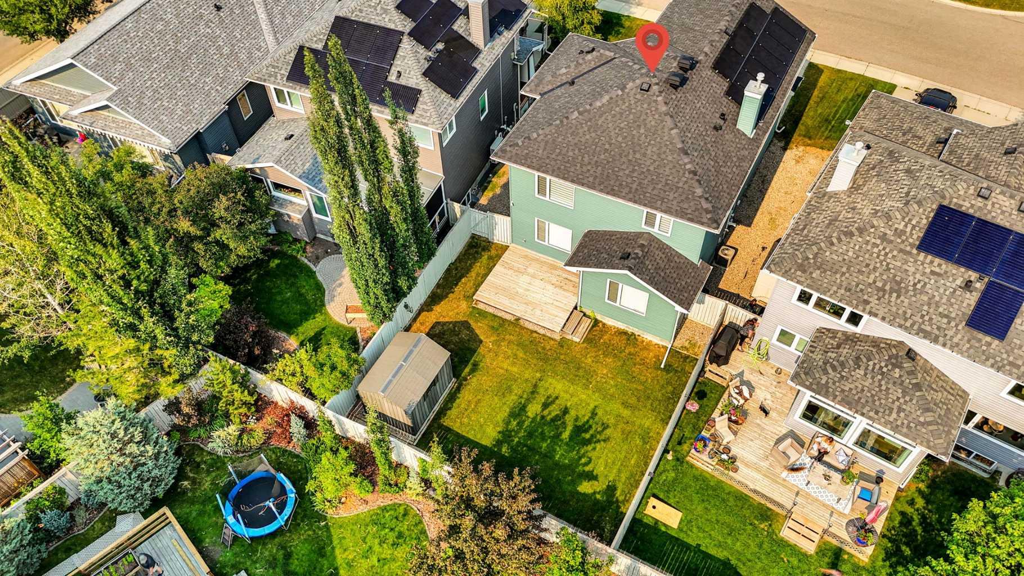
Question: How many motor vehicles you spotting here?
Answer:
one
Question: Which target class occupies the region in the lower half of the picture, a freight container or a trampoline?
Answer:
trampoline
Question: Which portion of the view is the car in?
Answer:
top right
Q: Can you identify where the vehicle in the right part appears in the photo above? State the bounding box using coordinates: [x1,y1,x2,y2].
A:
[920,88,963,118]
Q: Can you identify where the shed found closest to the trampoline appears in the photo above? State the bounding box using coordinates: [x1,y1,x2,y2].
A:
[350,331,465,453]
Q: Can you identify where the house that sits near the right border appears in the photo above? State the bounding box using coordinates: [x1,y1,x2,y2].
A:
[750,91,1024,501]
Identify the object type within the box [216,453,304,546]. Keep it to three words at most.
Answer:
trampoline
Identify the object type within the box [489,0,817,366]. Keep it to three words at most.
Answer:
building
